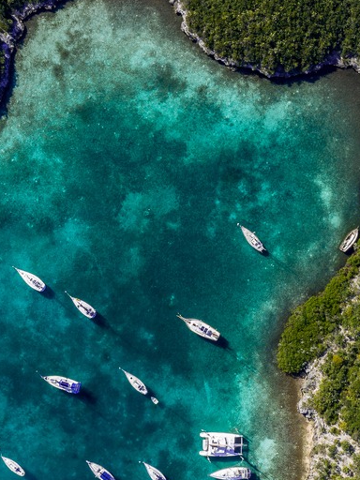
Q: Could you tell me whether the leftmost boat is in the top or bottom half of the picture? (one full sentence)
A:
The leftmost boat sits in the bottom half of the picture.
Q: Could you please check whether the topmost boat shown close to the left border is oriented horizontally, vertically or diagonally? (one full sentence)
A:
From this overhead view, the topmost boat shown close to the left border appears to run diagonally.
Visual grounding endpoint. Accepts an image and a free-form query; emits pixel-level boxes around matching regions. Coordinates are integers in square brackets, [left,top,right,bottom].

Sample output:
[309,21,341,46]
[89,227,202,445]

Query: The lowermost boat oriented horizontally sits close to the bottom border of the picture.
[210,467,253,480]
